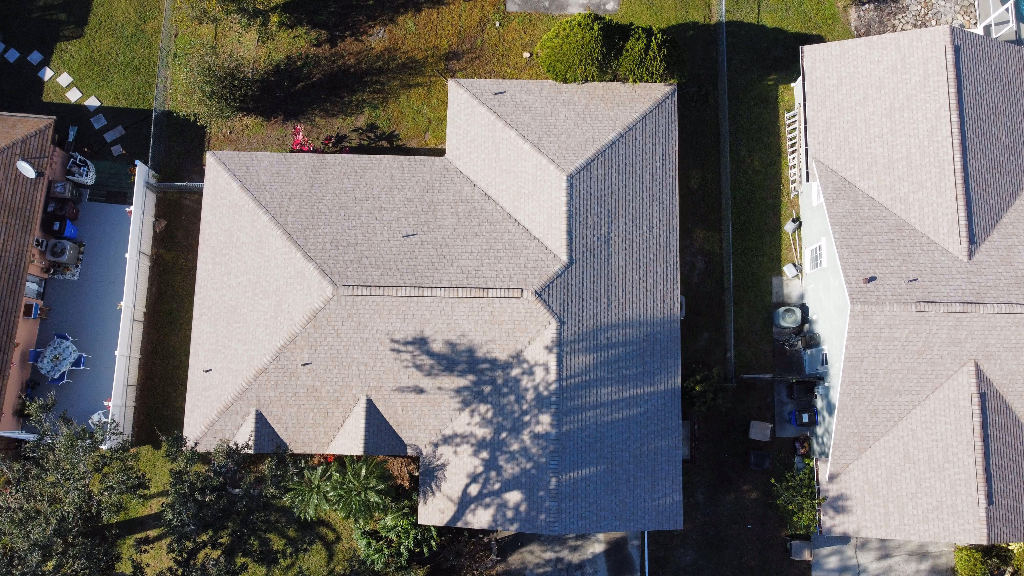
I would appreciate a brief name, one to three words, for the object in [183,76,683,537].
house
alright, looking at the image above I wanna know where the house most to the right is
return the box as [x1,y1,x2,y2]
[789,20,1024,551]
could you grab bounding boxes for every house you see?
[789,20,1024,551]
[183,76,683,537]
[0,109,68,456]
